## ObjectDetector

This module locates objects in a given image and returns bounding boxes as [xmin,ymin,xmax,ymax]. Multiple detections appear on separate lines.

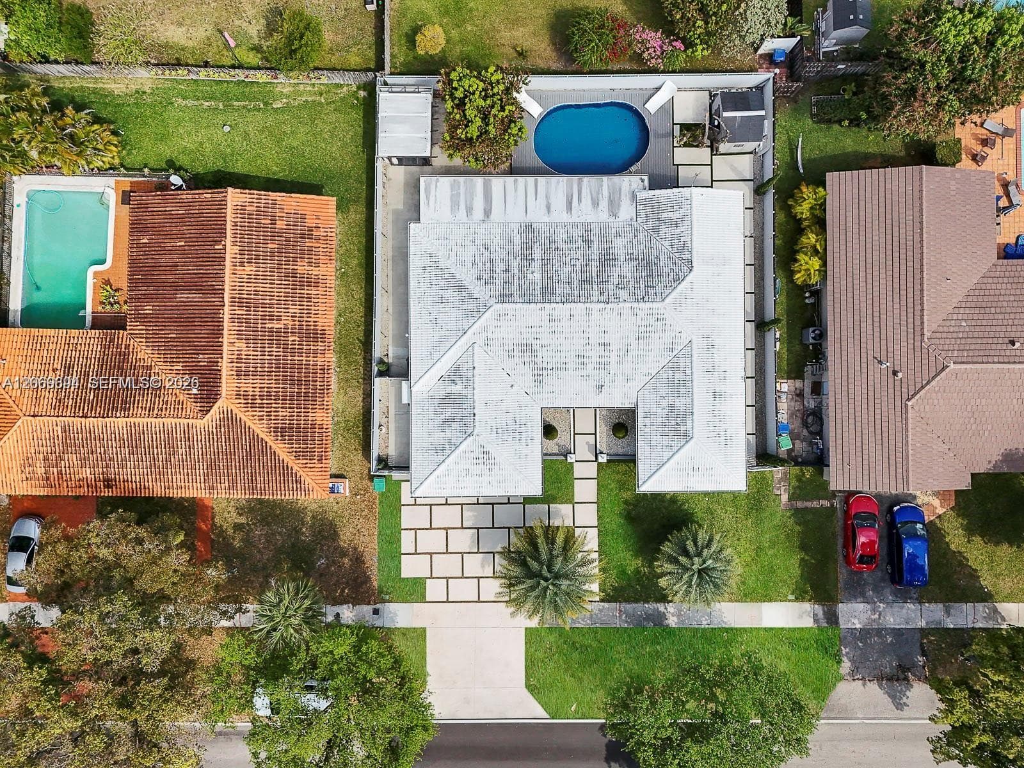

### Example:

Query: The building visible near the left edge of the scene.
[0,186,333,499]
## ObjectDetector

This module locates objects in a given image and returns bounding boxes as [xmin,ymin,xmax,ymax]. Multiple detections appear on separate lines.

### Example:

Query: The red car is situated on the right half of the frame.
[843,494,886,572]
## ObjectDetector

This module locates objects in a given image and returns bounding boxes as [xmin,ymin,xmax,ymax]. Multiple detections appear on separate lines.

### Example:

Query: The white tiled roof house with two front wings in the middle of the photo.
[407,174,747,500]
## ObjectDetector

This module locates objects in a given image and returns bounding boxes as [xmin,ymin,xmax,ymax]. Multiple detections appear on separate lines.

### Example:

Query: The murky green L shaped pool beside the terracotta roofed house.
[14,185,114,329]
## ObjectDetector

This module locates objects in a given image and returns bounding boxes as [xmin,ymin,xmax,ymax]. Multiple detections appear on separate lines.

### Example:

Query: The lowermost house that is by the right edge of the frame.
[821,164,1024,495]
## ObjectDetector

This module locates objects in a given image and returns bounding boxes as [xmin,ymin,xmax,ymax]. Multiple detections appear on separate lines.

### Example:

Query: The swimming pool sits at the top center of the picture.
[533,100,650,174]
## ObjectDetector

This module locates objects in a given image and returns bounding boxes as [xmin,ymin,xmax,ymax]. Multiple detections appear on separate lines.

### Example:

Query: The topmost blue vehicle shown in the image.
[887,502,934,583]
